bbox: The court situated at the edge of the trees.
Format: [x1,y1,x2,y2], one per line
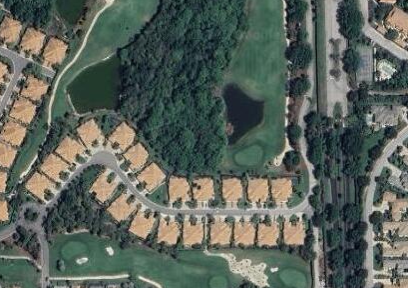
[356,46,374,81]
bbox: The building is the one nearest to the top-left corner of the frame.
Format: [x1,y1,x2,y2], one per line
[0,18,22,44]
